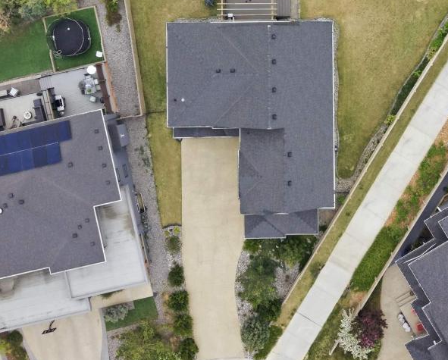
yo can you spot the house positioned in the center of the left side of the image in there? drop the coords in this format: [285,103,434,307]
[0,99,156,333]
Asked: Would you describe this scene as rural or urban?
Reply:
urban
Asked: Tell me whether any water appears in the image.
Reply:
No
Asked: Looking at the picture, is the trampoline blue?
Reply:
No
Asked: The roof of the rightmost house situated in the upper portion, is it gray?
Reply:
Yes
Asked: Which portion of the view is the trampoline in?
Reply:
top left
